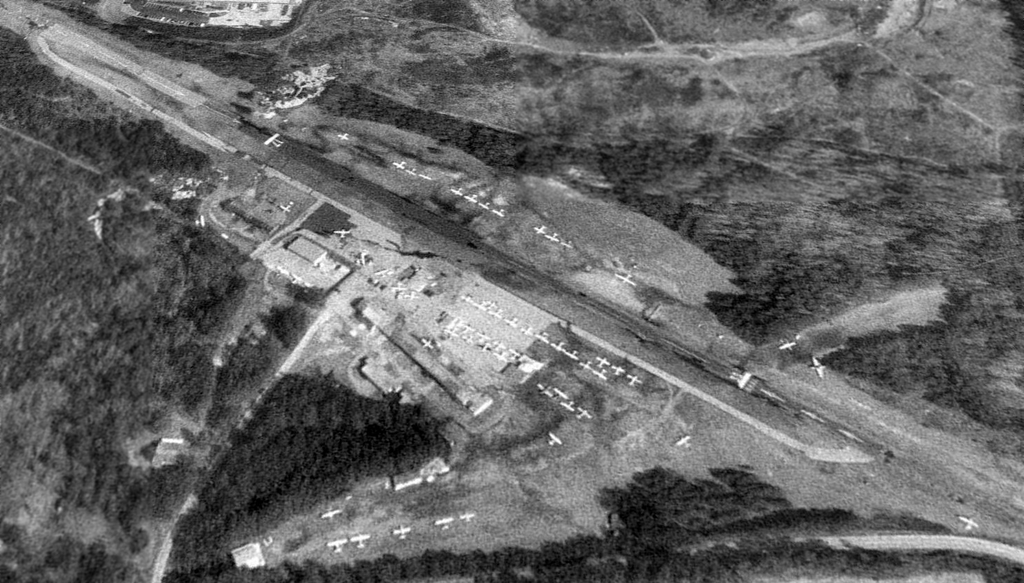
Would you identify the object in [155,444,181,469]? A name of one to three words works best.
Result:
house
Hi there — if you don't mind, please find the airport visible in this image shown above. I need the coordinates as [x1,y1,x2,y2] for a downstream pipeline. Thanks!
[33,31,883,462]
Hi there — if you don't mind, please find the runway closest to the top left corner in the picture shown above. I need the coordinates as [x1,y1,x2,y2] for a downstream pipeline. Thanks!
[63,31,208,107]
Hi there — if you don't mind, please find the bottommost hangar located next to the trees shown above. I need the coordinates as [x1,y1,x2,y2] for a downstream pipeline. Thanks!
[234,544,265,572]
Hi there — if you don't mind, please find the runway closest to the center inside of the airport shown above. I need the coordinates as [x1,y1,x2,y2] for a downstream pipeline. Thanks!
[192,97,883,461]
